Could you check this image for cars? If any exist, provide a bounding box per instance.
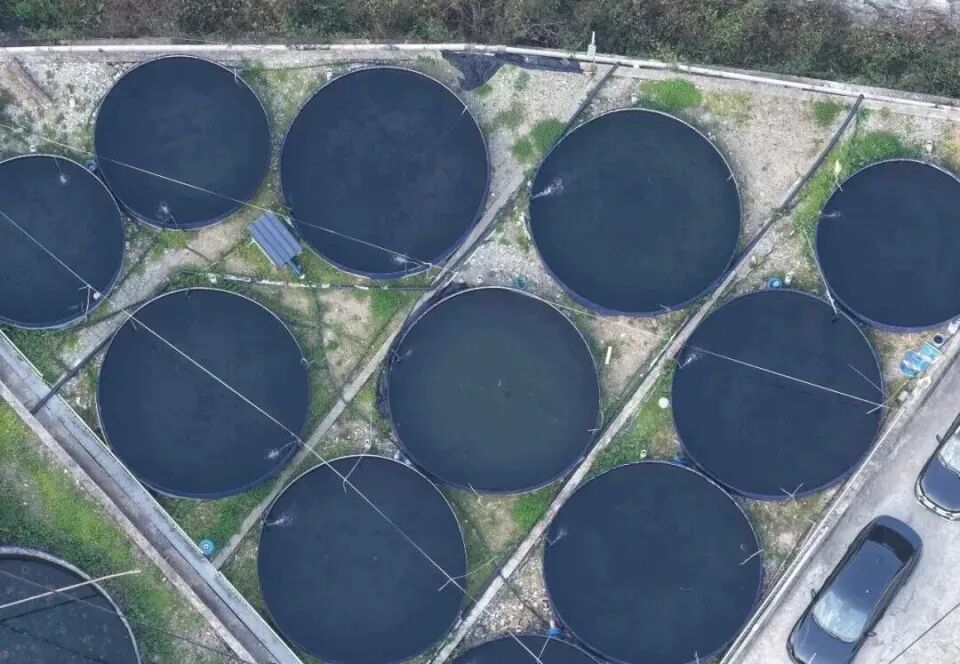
[914,412,960,521]
[779,506,919,664]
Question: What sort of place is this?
industrial area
